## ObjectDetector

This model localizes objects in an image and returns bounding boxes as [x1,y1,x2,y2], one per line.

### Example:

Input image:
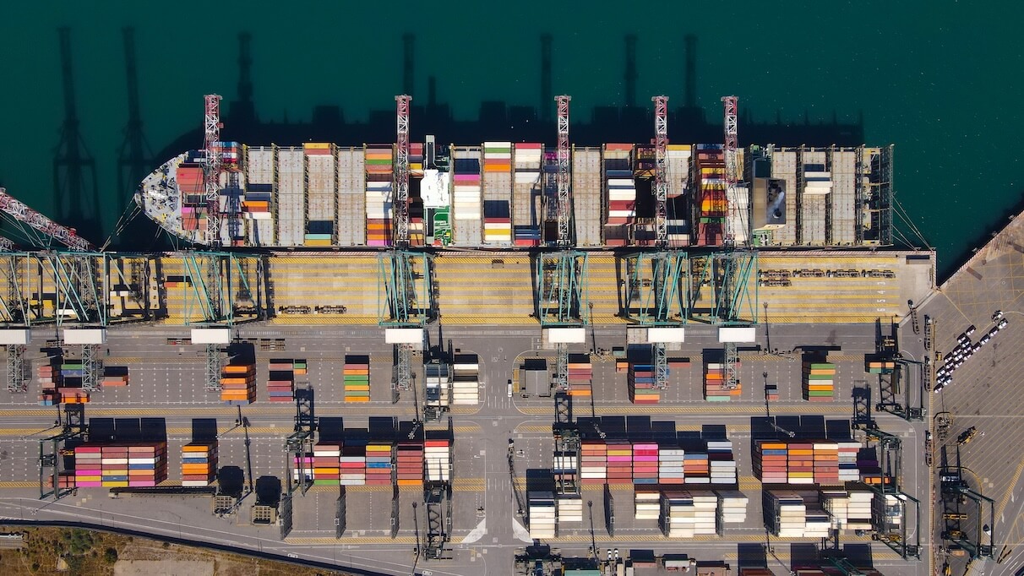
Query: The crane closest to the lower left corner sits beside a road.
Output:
[37,429,89,497]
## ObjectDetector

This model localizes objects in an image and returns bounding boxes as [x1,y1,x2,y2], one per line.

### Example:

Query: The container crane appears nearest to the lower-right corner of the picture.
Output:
[946,492,999,564]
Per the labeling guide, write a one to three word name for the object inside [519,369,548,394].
shed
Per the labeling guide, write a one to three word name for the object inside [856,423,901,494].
container crane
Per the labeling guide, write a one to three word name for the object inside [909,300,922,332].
vehicle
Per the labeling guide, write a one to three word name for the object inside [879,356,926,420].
container crane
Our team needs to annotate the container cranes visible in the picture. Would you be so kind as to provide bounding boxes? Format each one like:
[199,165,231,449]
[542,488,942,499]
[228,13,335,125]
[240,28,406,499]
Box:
[876,486,923,558]
[0,192,171,395]
[946,492,999,564]
[423,487,452,560]
[529,93,587,393]
[421,354,450,421]
[879,356,926,420]
[0,233,107,395]
[37,429,89,497]
[677,92,757,393]
[856,423,901,494]
[175,94,278,395]
[613,93,685,393]
[378,94,445,394]
[556,424,584,495]
[285,425,321,496]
